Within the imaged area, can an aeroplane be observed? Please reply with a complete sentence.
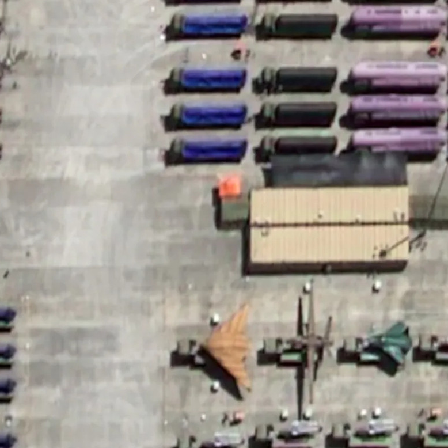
Yes, an aeroplane is visible in the scene.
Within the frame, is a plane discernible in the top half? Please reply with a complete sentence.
No, I can find no plane in the top half.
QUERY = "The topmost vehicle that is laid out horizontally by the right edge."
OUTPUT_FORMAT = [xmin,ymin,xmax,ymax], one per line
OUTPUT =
[352,5,448,31]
